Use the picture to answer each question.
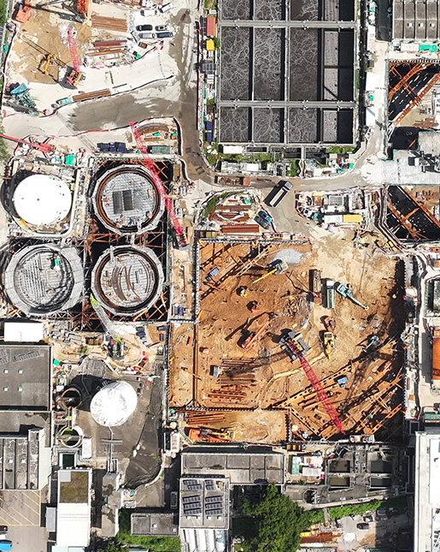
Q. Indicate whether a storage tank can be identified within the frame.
Yes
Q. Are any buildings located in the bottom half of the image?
Yes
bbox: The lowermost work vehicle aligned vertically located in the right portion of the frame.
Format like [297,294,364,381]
[322,330,335,358]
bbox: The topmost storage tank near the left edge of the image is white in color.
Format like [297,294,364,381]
[11,169,81,230]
